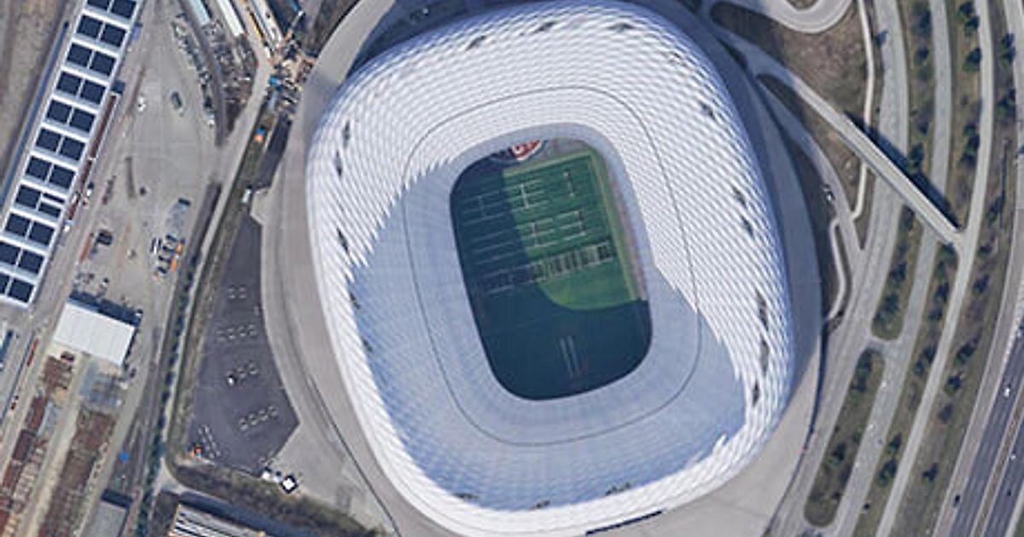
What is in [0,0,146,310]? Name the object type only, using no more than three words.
building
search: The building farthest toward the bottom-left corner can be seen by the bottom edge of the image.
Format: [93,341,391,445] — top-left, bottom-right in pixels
[83,499,127,537]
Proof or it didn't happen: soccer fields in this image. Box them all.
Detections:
[451,144,649,398]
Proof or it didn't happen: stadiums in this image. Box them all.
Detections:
[304,0,798,537]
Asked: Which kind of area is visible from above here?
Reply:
sports ground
